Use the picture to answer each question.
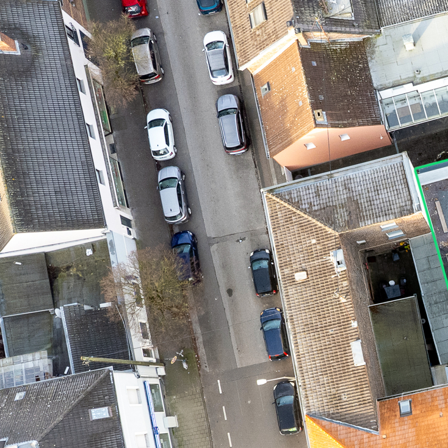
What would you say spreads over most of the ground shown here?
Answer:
buildings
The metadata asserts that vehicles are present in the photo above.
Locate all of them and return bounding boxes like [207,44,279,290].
[156,166,191,225]
[259,306,292,362]
[268,380,303,436]
[195,0,223,18]
[213,93,250,157]
[132,27,166,87]
[144,108,179,163]
[247,248,279,298]
[203,30,236,88]
[169,230,203,285]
